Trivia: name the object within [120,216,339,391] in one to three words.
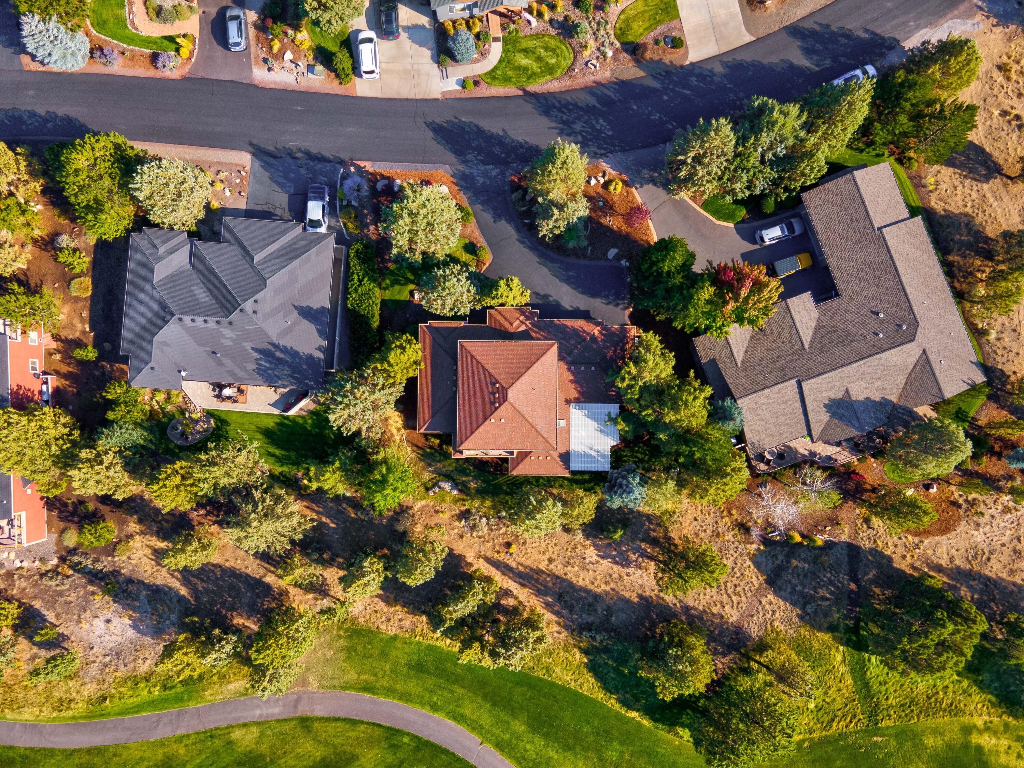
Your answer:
house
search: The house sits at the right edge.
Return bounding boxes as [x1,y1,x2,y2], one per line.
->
[692,160,987,457]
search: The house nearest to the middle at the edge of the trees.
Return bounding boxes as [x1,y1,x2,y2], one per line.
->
[417,306,637,476]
